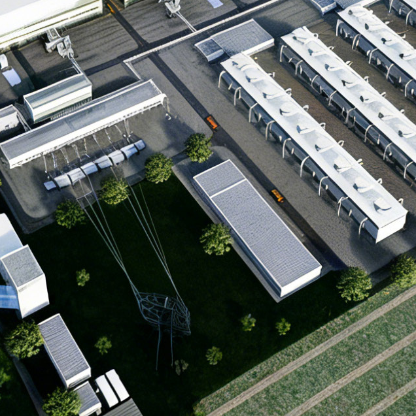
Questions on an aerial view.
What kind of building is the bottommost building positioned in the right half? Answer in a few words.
warehouse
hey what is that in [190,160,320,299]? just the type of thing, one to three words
warehouse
